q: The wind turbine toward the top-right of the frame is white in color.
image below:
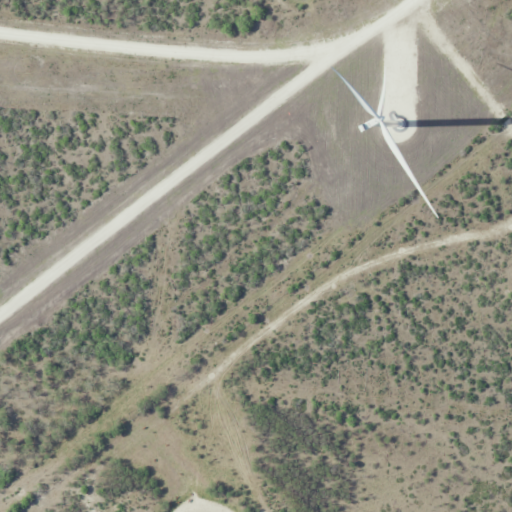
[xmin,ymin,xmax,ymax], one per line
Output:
[336,62,438,218]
